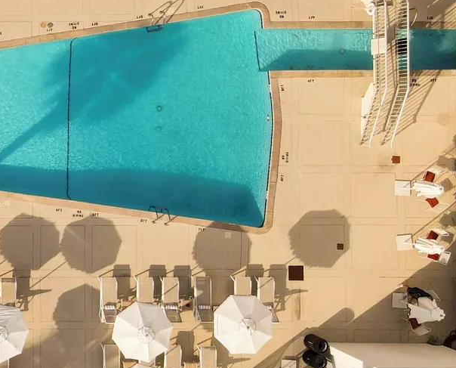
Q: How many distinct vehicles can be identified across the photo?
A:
0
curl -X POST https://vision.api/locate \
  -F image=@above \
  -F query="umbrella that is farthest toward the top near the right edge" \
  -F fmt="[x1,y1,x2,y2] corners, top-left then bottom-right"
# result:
[399,180,447,197]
